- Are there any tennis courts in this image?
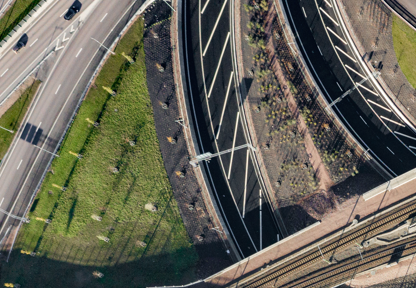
No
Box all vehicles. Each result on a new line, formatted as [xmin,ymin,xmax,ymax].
[62,3,78,19]
[10,39,24,53]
